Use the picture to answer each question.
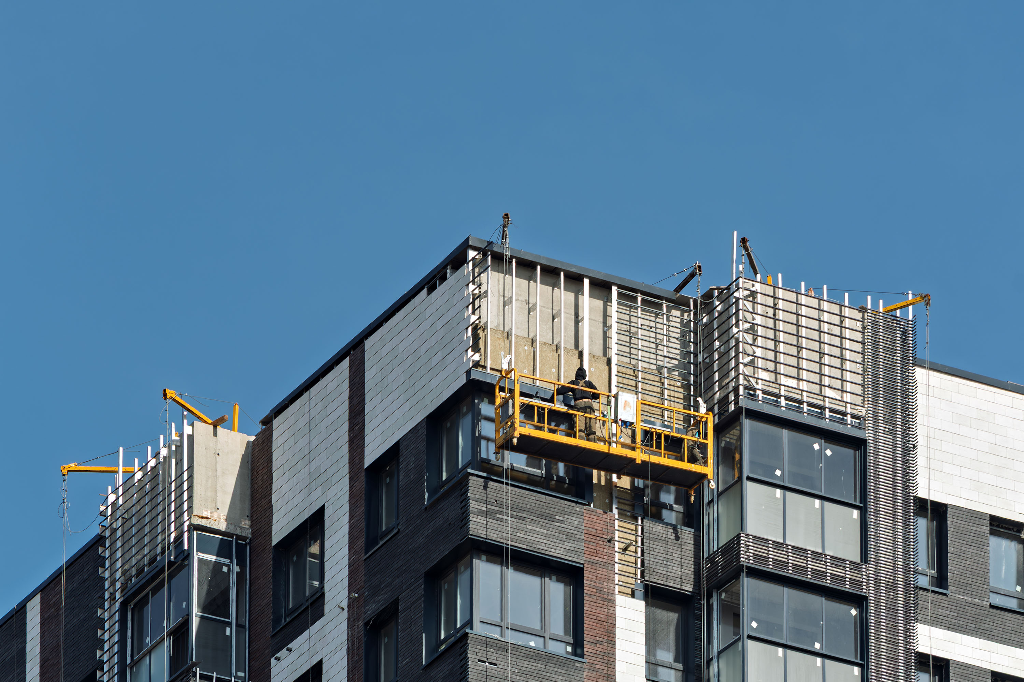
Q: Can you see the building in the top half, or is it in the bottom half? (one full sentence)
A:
You can find the building in the bottom half.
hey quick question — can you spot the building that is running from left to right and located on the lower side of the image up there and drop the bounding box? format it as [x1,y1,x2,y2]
[0,234,1024,682]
